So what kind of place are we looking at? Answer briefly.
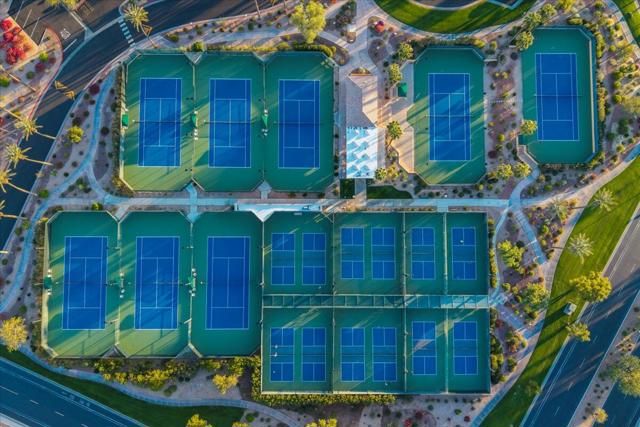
sports ground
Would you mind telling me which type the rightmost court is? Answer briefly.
tennis court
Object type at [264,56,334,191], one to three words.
tennis court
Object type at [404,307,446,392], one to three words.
sports court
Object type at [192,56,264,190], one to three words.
tennis court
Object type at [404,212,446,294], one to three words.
sports court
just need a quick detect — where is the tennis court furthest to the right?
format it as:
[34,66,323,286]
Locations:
[518,28,594,162]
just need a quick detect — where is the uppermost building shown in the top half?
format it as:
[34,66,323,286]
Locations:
[345,76,378,131]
